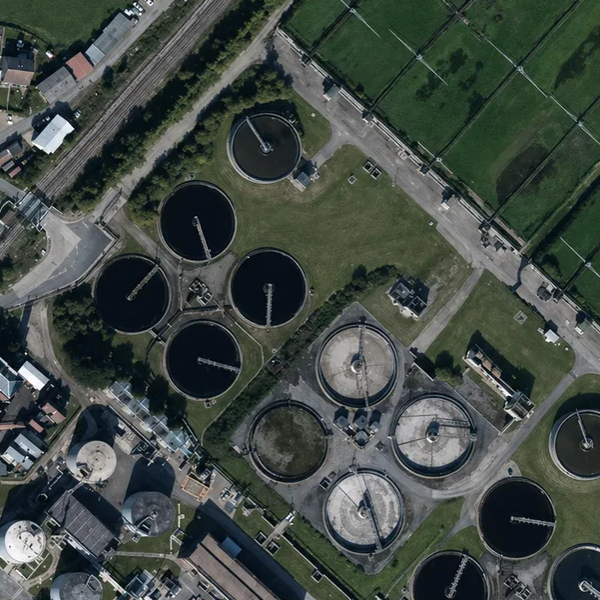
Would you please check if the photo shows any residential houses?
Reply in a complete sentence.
Yes, a residential house appears in the view.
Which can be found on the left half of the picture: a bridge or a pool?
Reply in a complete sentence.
Looking on the left half of the picture, you will find a bridge.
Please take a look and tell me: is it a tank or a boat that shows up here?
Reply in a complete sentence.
Visible in the photo is a tank.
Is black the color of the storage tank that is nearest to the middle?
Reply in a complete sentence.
Yes, the storage tank that is nearest to the middle appears black.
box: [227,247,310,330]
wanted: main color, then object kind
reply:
black storage tank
